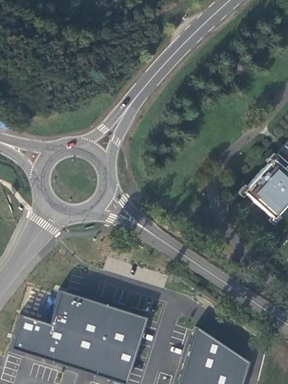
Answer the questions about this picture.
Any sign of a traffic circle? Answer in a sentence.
Yes, a traffic circle appears in the view.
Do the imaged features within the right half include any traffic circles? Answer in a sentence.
No, no traffic circle is visible within the right half.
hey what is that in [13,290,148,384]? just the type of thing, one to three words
building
